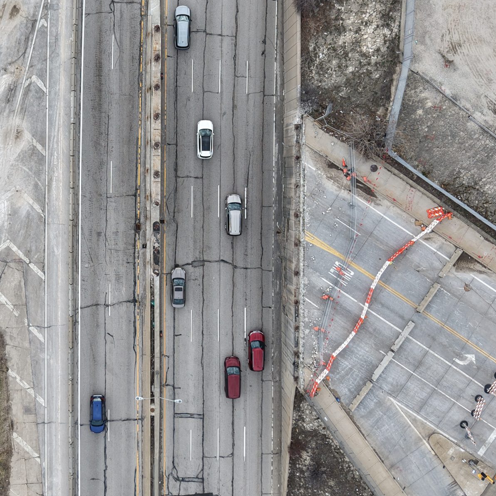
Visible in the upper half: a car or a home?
car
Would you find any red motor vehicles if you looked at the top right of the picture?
No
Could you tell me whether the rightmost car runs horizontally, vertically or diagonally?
vertically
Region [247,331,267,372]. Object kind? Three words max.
car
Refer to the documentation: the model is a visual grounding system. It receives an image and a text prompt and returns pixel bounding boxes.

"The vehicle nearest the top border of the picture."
[173,4,193,49]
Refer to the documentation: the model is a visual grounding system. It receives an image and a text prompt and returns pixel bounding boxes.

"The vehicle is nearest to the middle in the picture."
[226,194,244,236]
